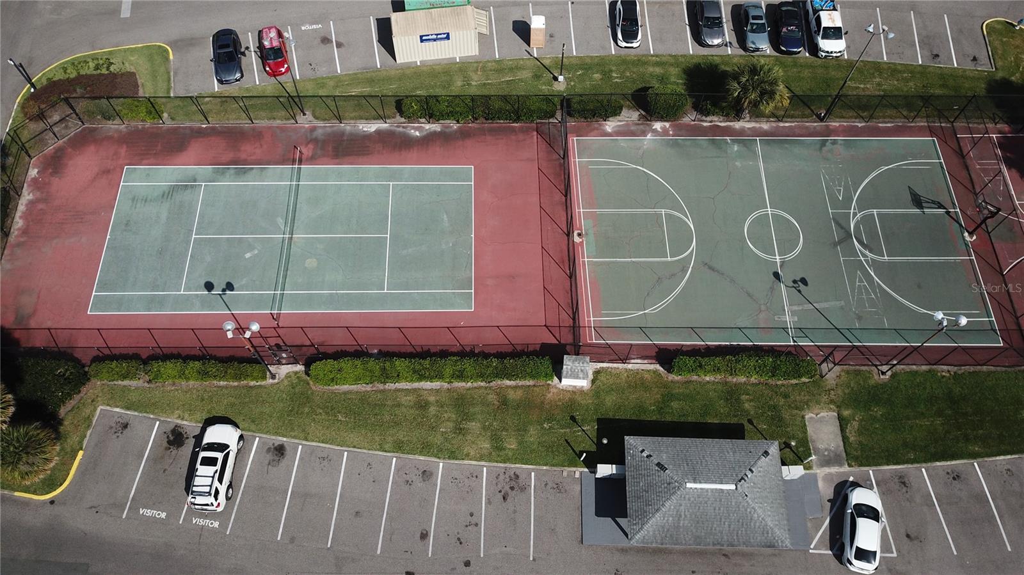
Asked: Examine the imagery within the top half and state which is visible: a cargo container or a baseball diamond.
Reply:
cargo container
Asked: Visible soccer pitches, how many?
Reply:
0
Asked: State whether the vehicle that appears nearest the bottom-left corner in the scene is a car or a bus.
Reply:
car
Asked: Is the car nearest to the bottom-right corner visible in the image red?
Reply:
No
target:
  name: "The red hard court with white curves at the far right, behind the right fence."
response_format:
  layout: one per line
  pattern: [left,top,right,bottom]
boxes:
[953,123,1024,333]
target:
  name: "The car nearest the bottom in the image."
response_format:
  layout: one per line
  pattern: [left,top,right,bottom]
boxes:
[838,485,884,575]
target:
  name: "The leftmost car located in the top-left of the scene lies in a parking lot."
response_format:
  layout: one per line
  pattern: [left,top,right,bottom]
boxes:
[210,29,243,86]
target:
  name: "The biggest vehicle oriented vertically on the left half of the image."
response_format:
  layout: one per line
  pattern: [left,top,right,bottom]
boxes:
[190,422,241,513]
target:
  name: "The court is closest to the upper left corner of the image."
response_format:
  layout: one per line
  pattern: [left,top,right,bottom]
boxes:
[0,123,574,367]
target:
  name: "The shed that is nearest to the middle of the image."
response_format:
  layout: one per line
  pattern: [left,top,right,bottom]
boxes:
[563,352,591,386]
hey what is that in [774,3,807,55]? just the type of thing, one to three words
car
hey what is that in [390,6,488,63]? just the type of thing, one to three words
shipping container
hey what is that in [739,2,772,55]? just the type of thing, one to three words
car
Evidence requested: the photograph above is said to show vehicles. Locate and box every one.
[693,0,726,50]
[774,3,807,55]
[612,0,643,49]
[190,422,241,513]
[258,26,287,79]
[838,485,884,575]
[802,0,845,60]
[210,29,243,86]
[739,2,772,55]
